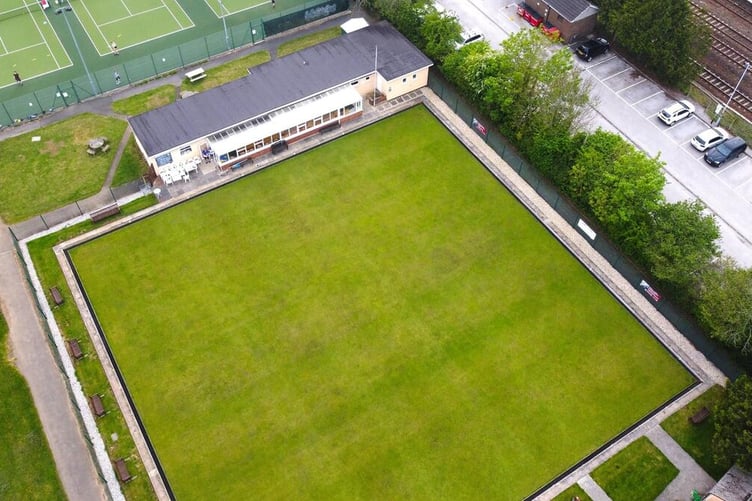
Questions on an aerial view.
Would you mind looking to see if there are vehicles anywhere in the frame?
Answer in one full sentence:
Yes, the picture does show a vehicle.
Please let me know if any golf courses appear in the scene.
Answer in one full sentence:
No, no golf course is visible in the scene.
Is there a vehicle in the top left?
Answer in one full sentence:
No, in the top left there is no vehicle.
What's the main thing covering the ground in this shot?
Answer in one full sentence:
The bulk of the photo consists of grass.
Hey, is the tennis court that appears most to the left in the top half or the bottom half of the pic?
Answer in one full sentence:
It is in the top half that the tennis court that appears most to the left appears.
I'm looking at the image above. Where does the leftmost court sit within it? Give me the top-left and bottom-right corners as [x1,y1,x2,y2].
[0,0,73,88]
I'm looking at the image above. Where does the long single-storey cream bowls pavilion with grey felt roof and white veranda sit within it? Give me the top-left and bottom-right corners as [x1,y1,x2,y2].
[124,21,432,180]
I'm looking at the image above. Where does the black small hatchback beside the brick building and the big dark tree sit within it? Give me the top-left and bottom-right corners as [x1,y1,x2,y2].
[579,37,614,60]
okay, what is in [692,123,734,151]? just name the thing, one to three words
car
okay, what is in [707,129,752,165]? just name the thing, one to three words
car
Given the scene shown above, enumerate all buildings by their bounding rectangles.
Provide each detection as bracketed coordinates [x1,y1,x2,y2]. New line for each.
[514,0,605,41]
[124,21,432,180]
[704,461,752,501]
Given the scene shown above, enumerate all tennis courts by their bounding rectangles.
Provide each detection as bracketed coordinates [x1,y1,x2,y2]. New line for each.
[69,0,194,56]
[0,0,73,88]
[205,0,270,18]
